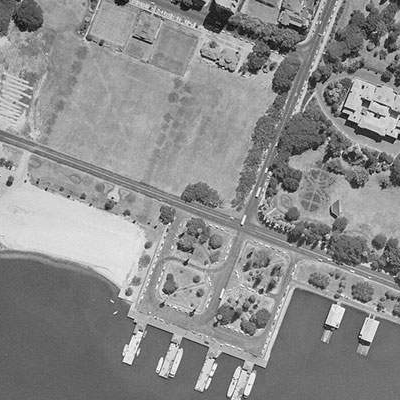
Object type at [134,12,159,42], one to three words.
building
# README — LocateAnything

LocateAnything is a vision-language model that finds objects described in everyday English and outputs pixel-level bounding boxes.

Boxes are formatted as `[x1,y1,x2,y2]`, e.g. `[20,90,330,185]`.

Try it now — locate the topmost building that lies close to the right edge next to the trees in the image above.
[341,79,400,140]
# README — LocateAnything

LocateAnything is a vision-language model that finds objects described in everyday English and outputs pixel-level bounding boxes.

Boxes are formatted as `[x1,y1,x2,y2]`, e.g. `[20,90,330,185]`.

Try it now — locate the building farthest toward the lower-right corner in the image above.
[356,312,379,357]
